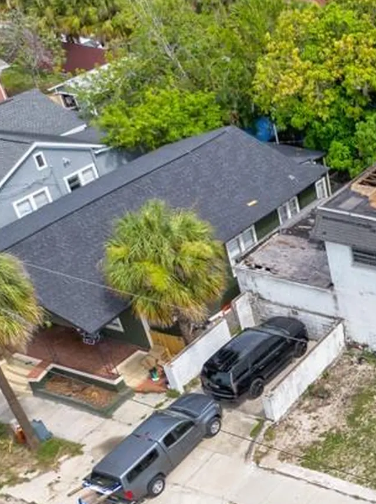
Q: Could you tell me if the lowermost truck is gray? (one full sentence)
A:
Yes, gray is the color of the lowermost truck.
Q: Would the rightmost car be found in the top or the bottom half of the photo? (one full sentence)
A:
The rightmost car is in the bottom half of the image.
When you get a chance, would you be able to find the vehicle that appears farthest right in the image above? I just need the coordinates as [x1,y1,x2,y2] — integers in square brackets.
[195,318,309,407]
